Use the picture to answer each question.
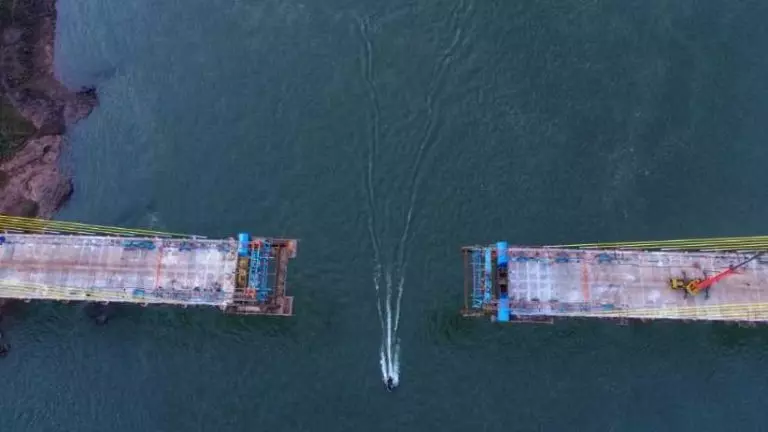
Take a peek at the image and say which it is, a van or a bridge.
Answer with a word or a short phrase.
bridge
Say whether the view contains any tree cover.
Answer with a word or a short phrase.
No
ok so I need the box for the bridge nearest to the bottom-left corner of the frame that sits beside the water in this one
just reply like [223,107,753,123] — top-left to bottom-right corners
[0,233,237,308]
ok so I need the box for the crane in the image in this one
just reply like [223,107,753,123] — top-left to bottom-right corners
[671,256,763,300]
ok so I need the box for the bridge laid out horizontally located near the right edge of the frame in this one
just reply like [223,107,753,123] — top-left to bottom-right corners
[508,246,768,324]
